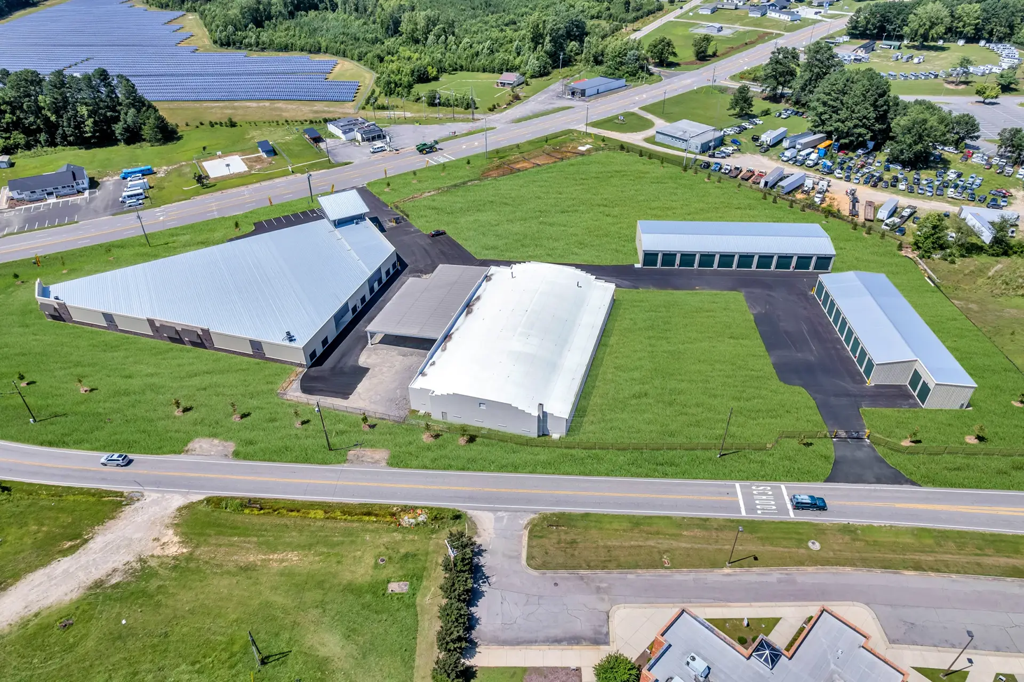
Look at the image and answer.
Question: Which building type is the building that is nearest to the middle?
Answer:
warehouse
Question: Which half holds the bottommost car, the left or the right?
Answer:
right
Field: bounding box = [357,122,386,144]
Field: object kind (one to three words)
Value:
building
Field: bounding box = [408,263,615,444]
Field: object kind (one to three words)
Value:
warehouse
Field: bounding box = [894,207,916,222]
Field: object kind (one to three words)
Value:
vehicle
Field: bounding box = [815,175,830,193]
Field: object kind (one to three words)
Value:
vehicle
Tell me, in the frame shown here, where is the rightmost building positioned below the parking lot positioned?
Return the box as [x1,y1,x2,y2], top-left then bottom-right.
[812,272,979,413]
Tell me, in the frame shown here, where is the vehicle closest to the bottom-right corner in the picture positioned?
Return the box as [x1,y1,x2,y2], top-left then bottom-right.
[789,490,831,511]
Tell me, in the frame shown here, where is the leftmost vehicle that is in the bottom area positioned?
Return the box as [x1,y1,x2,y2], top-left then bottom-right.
[97,450,131,467]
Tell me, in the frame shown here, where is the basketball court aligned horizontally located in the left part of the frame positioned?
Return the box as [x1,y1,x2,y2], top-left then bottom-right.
[202,155,248,178]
